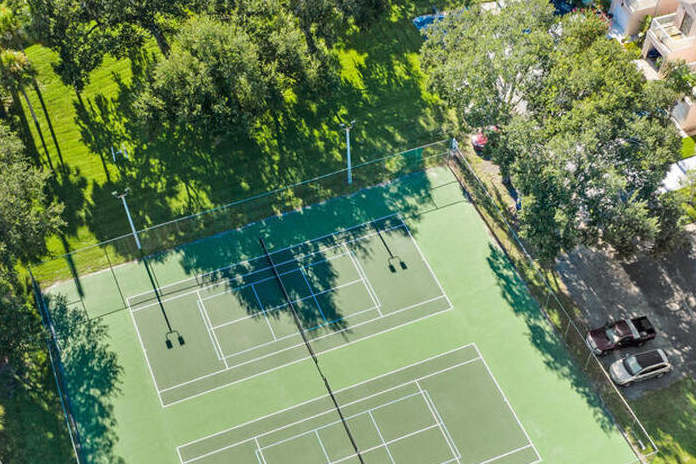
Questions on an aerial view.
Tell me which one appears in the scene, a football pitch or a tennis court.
tennis court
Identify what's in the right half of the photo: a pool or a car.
car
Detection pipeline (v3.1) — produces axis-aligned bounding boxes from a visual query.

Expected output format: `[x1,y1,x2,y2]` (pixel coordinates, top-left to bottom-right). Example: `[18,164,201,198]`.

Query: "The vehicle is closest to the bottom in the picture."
[611,348,675,390]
